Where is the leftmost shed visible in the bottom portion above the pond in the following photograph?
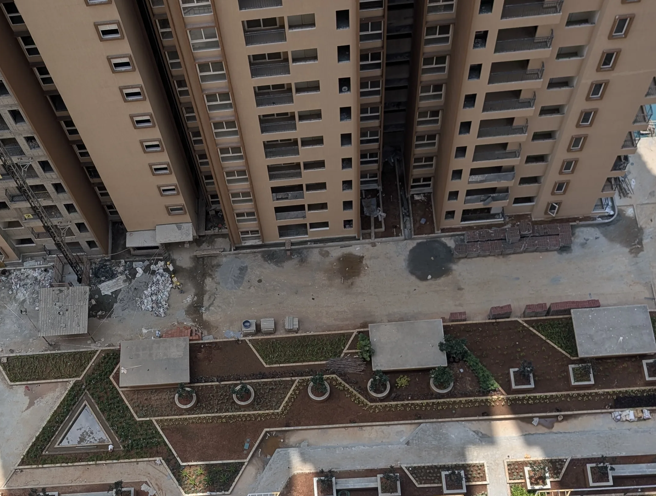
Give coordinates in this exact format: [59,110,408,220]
[38,286,98,348]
